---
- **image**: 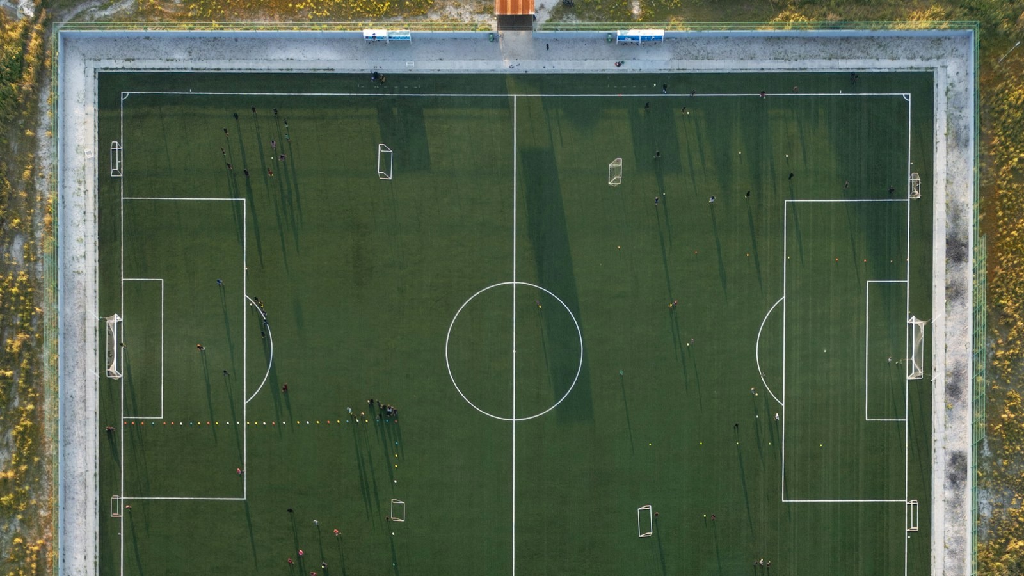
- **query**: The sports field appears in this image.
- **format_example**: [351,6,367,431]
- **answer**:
[98,72,934,576]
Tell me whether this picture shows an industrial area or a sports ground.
sports ground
